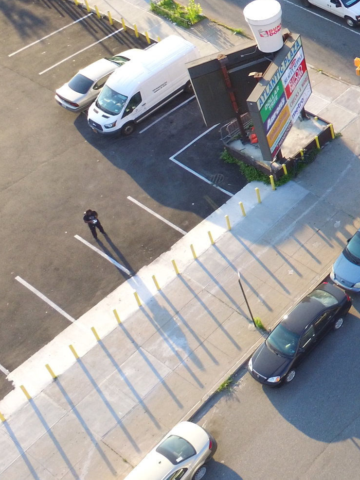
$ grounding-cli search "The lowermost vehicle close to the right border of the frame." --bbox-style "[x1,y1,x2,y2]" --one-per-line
[240,282,349,393]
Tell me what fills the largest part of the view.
paved ground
